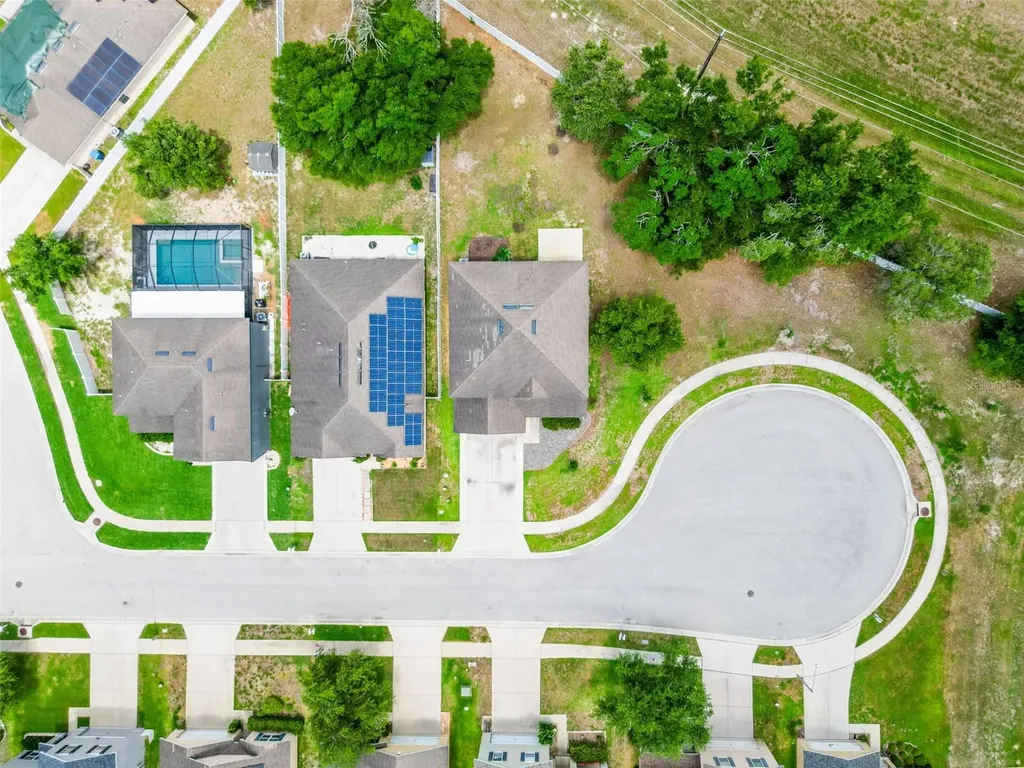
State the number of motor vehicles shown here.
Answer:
zero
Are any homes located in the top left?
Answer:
Yes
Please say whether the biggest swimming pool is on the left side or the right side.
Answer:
left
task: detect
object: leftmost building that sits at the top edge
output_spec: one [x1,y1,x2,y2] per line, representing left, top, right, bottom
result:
[0,0,196,166]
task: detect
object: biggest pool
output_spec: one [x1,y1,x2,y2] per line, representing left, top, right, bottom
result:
[152,236,240,288]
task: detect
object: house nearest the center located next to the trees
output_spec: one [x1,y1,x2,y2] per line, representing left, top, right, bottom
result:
[449,261,589,435]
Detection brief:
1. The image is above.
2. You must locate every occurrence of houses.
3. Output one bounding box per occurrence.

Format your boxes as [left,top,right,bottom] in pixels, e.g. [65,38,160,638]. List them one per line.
[0,0,196,166]
[337,734,448,768]
[287,259,425,458]
[449,261,589,435]
[797,739,894,768]
[0,728,156,768]
[158,728,297,768]
[112,290,269,463]
[635,737,784,768]
[474,732,612,768]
